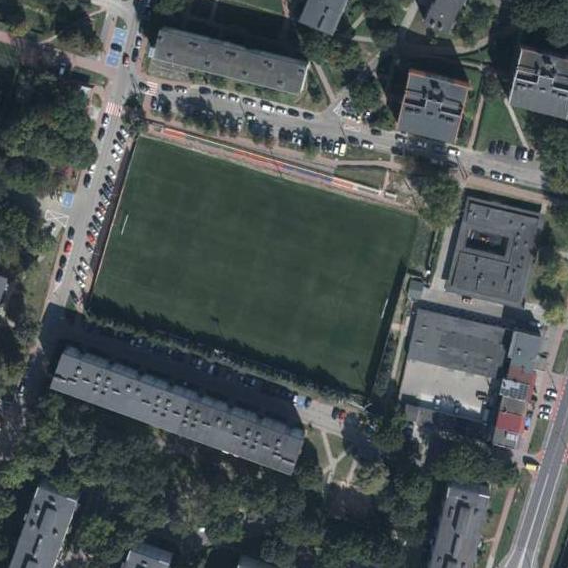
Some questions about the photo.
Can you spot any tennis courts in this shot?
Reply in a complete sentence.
No, there appears to be no tennis court in this shot.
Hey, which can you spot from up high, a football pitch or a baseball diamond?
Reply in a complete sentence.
Visible in the photo is a football pitch.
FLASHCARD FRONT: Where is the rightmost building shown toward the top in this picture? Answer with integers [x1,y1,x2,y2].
[509,44,568,119]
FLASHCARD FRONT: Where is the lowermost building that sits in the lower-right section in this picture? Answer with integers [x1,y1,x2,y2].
[430,485,493,568]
